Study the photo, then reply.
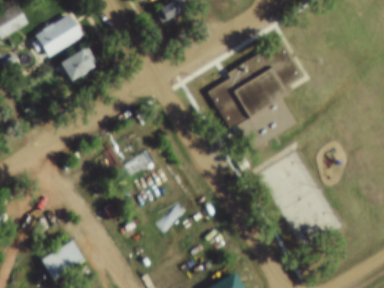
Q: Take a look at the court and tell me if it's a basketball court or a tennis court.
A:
basketball court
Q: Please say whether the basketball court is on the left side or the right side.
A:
right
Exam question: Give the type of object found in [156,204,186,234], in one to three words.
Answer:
house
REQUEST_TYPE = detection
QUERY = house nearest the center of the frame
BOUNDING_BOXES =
[124,152,154,178]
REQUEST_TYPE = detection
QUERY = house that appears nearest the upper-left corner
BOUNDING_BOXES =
[0,6,26,39]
